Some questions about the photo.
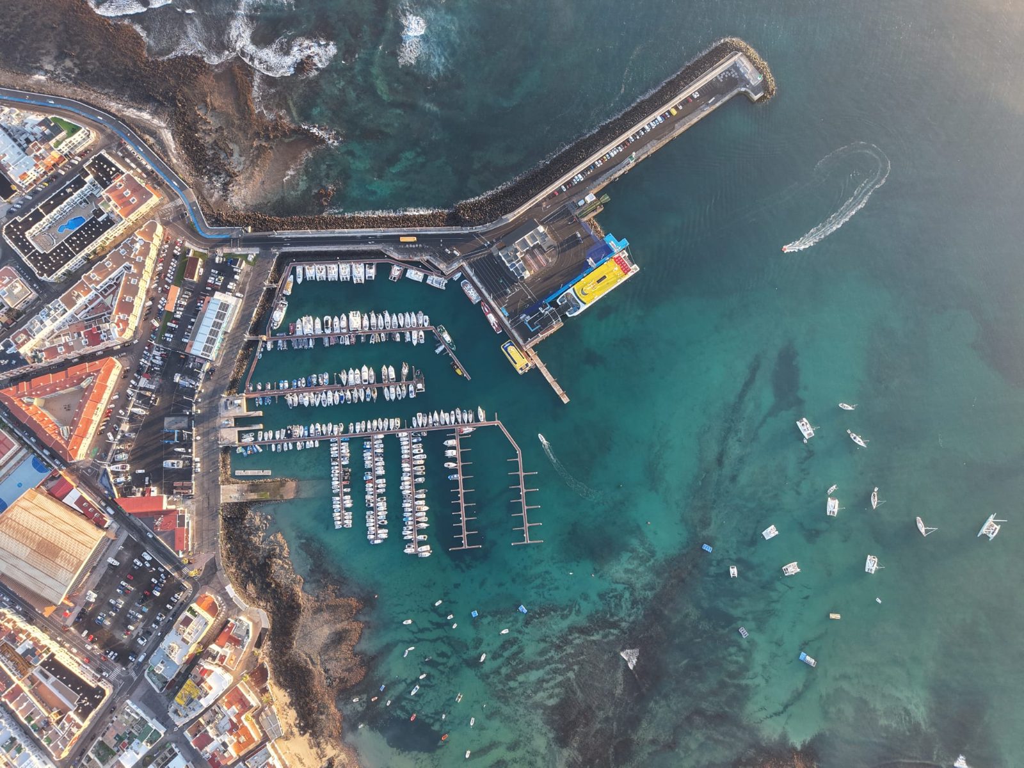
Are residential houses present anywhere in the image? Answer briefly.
Yes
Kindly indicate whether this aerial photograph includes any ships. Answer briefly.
Yes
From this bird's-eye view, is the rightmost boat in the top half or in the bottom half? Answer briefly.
bottom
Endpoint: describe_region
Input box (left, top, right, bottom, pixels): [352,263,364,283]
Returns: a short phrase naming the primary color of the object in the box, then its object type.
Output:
white boat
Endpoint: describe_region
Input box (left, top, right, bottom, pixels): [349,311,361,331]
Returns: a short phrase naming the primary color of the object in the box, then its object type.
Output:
white boat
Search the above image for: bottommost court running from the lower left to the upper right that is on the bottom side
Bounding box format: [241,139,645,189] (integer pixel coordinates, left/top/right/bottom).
[0,454,52,513]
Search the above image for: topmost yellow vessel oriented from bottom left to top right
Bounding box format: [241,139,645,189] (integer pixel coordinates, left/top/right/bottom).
[557,251,643,318]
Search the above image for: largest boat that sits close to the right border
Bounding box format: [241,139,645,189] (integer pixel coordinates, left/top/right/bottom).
[974,514,1014,544]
